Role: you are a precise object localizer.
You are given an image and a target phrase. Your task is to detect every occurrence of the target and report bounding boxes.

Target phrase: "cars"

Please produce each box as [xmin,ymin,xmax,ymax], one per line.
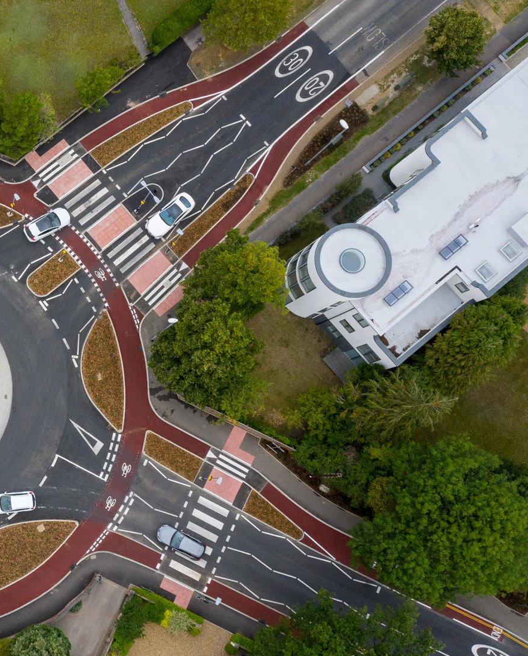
[0,490,37,515]
[154,523,210,564]
[145,189,199,238]
[20,207,72,241]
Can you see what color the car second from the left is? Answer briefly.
white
